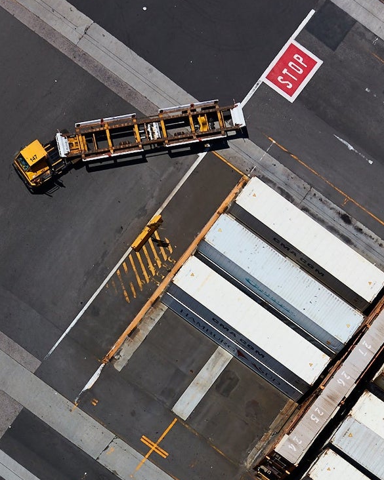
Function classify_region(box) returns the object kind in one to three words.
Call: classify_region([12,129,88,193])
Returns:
work vehicle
